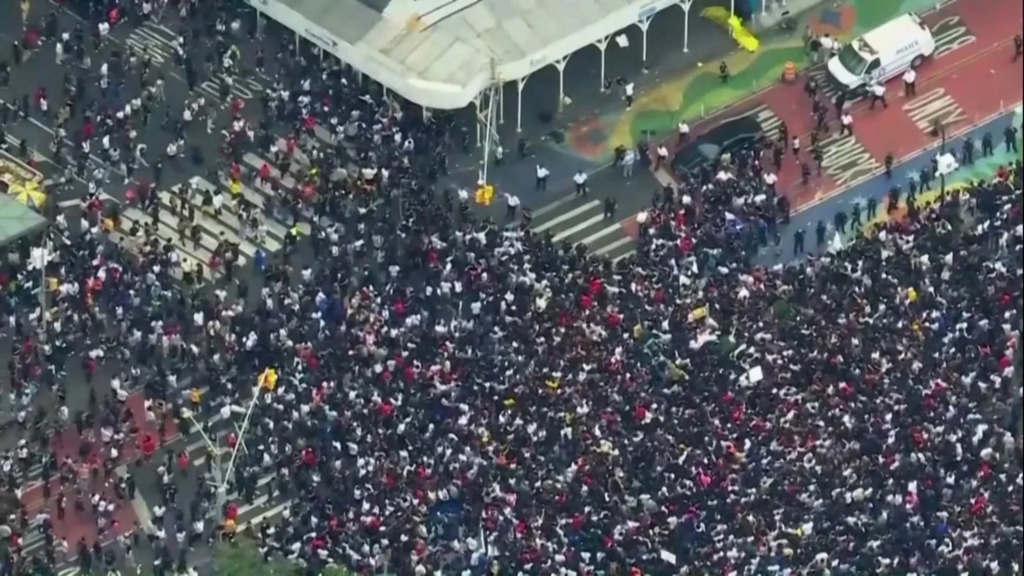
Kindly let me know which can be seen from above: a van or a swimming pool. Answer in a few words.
van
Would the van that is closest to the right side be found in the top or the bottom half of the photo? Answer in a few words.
top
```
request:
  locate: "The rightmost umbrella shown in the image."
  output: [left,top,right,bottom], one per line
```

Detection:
[700,7,766,52]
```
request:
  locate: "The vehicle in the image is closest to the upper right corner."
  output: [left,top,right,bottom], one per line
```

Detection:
[831,9,939,88]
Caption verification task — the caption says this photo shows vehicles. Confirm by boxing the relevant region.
[669,114,769,173]
[831,9,939,88]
